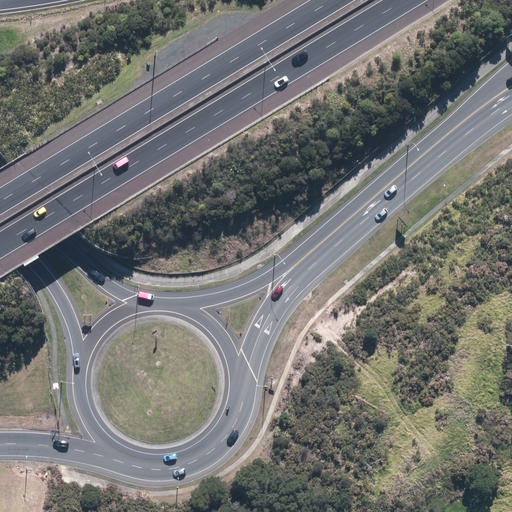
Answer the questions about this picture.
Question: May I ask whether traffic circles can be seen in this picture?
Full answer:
Yes, there's a traffic circle down there.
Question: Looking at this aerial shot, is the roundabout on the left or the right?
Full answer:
You can find the roundabout on the left side of the picture.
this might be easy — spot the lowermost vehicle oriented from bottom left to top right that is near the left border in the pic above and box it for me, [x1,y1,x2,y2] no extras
[20,229,36,241]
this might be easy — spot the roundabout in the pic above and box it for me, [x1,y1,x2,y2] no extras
[69,293,247,471]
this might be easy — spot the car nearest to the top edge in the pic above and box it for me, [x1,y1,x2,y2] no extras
[292,52,308,64]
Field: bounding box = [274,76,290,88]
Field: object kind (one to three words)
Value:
vehicle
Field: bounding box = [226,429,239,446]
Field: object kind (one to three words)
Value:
vehicle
